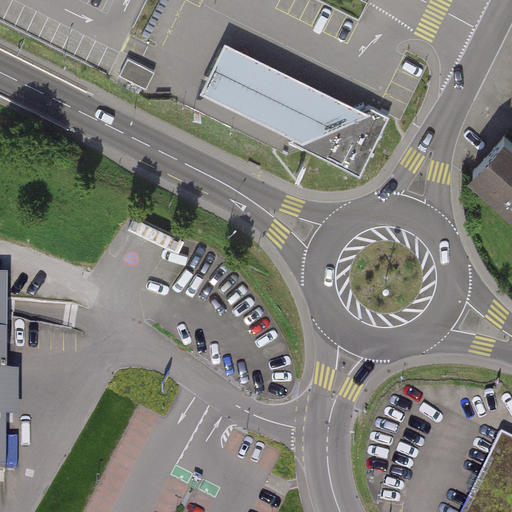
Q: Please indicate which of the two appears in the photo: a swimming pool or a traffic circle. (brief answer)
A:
traffic circle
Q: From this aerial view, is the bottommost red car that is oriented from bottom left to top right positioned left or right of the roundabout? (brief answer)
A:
to the left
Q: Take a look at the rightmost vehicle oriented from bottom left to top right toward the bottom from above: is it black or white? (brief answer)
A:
black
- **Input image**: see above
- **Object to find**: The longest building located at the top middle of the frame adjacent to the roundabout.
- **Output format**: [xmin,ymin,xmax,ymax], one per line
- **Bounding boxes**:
[200,42,388,178]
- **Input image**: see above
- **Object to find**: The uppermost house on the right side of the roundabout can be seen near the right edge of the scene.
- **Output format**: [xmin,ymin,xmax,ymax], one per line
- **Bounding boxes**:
[468,142,512,230]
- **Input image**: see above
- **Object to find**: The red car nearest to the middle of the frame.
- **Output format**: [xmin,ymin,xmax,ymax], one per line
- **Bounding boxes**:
[248,316,271,336]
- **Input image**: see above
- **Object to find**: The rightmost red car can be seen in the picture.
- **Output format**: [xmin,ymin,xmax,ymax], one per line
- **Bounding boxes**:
[402,384,424,403]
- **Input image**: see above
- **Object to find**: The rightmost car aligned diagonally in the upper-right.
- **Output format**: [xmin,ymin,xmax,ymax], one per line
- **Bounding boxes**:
[464,128,485,152]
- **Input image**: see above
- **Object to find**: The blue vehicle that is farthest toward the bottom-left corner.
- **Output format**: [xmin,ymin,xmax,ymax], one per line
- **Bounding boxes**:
[6,434,19,468]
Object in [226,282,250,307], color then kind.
white car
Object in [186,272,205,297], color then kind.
white vehicle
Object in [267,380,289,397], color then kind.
black car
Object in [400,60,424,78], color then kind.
white vehicle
